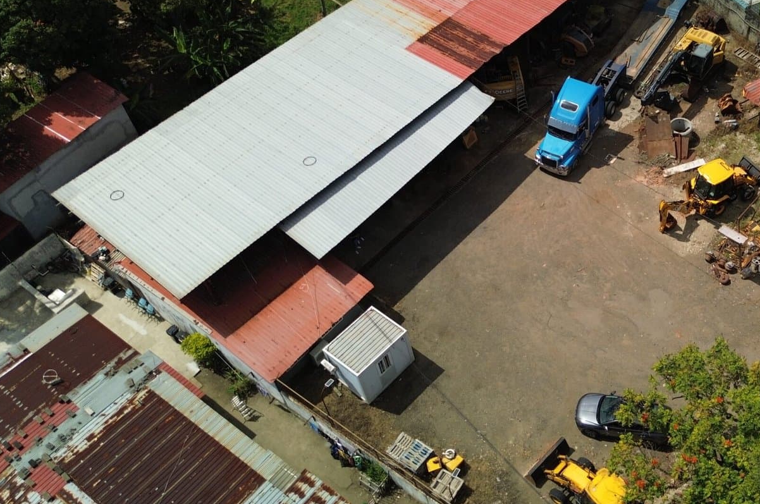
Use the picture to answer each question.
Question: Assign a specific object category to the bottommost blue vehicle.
truck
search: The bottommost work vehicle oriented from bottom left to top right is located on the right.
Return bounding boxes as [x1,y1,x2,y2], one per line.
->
[660,151,760,227]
